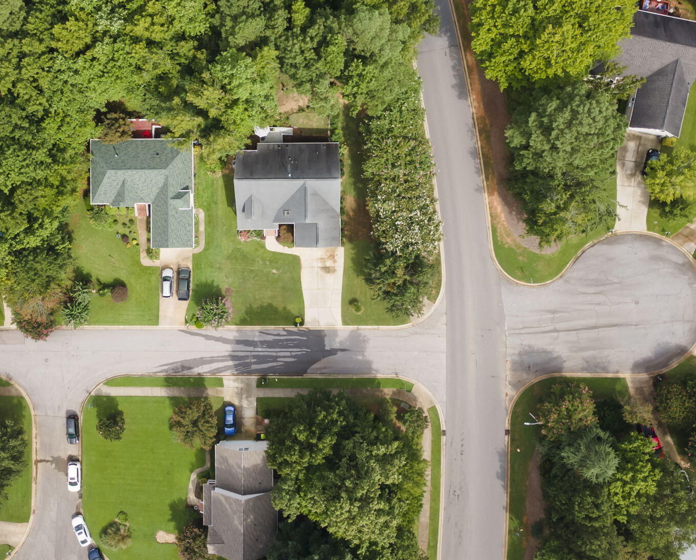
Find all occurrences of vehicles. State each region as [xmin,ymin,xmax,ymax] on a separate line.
[639,149,656,182]
[64,414,80,445]
[176,266,191,300]
[222,404,236,435]
[160,267,174,299]
[66,461,82,492]
[87,547,103,560]
[72,514,92,548]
